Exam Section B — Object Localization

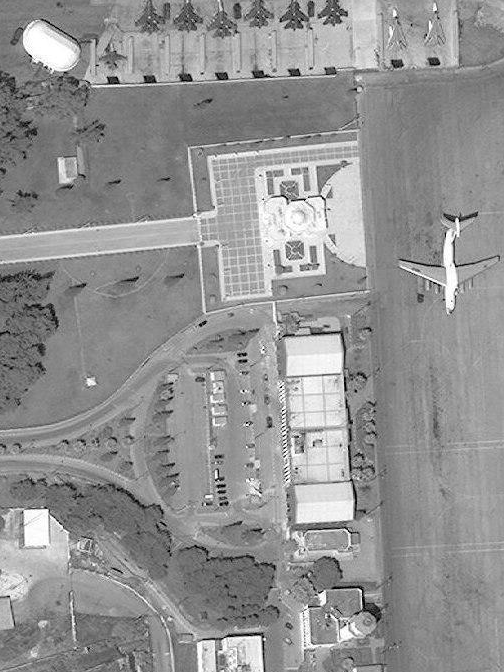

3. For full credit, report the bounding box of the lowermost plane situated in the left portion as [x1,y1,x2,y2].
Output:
[97,42,128,69]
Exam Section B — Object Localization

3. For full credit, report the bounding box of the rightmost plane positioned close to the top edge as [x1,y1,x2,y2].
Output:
[421,3,452,45]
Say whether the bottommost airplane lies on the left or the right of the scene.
right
